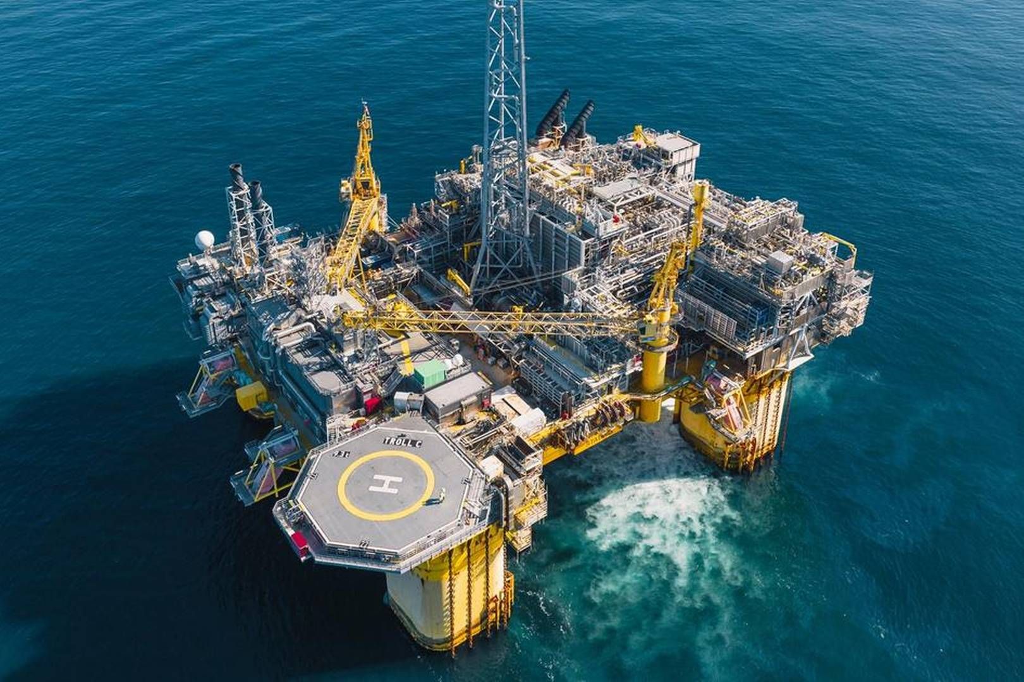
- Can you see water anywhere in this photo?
Yes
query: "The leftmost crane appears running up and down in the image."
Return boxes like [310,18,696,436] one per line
[327,103,396,305]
